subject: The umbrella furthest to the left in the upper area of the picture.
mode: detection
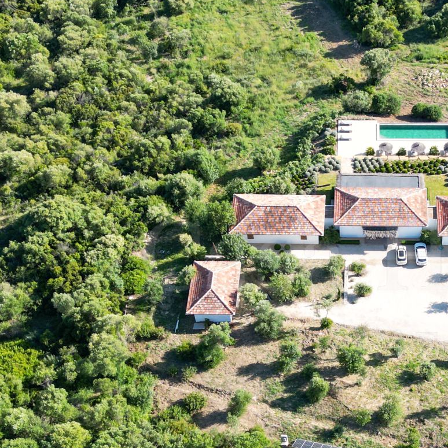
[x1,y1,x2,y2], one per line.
[376,143,395,157]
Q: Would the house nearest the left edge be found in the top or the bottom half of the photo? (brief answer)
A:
bottom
